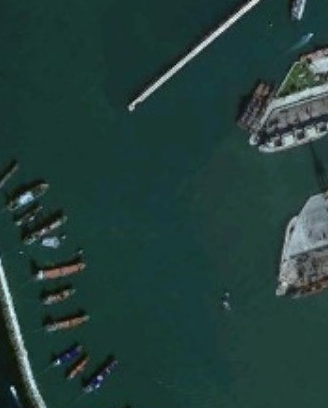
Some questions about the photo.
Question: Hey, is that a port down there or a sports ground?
port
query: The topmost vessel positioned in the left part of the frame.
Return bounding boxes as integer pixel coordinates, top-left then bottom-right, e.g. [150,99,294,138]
[0,163,18,187]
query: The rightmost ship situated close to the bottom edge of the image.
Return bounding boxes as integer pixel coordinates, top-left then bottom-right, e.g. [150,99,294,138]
[81,362,118,393]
